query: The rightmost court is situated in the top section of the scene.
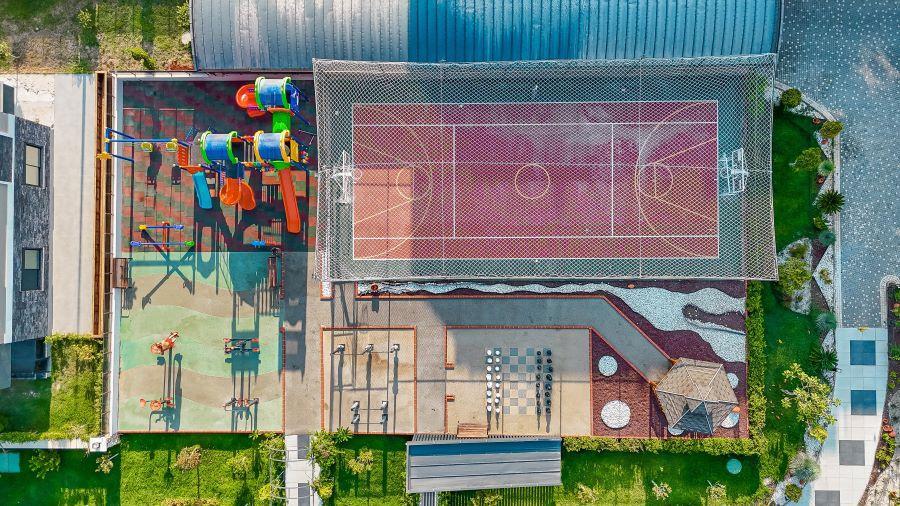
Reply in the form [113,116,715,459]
[329,79,745,280]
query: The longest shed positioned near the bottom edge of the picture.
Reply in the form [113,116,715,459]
[406,429,562,490]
